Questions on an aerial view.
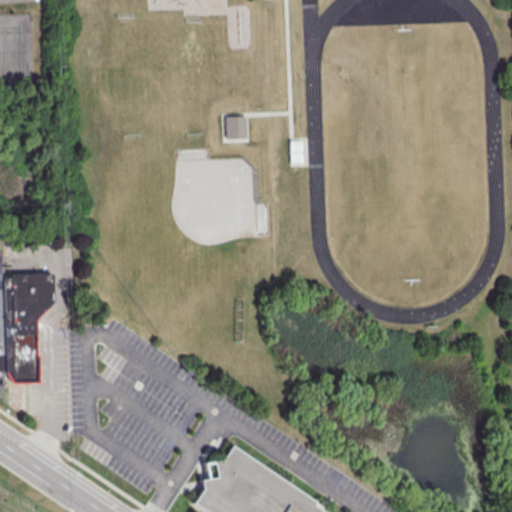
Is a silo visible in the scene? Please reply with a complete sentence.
No, no silo is visible in the view.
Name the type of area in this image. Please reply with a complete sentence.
The area seen from above is a sports ground.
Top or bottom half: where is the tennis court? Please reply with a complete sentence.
The tennis court sits in the top half of the picture.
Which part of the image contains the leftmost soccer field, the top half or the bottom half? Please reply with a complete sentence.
The top half of the photo is where the leftmost soccer field is.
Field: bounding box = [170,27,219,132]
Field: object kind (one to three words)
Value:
soccer field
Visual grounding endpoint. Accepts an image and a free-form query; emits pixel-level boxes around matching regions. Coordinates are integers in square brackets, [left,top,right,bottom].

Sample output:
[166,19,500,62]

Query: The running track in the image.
[303,0,504,324]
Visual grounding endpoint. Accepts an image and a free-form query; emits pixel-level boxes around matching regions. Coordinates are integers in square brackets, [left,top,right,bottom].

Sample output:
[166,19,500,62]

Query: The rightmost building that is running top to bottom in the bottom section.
[6,272,54,382]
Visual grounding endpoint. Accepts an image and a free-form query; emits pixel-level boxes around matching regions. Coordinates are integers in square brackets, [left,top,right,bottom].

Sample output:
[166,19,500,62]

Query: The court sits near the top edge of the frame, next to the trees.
[0,14,32,78]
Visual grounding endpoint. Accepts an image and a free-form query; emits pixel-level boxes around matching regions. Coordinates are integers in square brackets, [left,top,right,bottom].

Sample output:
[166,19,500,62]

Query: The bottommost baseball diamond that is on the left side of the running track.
[173,157,258,245]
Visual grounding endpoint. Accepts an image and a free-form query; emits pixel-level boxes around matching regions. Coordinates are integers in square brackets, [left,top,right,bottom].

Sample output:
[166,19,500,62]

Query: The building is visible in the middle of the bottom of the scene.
[197,446,330,512]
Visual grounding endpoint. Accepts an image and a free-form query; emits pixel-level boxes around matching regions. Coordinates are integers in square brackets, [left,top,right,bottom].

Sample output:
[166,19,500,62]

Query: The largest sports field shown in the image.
[323,24,489,309]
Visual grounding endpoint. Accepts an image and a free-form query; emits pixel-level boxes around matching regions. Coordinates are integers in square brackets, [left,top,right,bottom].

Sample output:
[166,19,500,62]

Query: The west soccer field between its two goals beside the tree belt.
[104,17,152,134]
